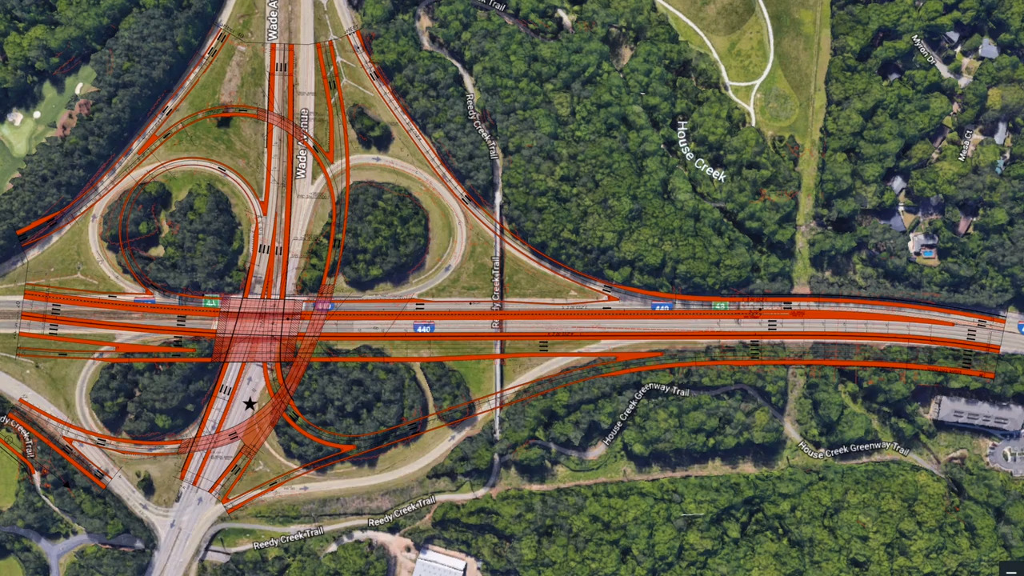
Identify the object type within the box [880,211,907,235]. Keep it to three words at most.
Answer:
house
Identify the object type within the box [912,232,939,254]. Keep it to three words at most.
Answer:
house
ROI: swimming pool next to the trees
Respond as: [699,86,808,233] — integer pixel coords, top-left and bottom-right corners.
[919,244,937,261]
